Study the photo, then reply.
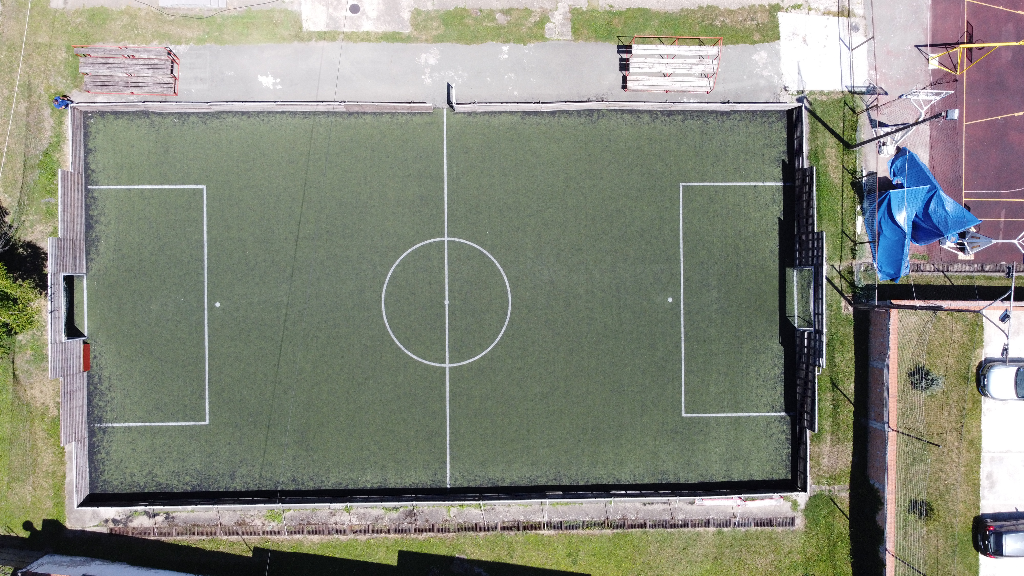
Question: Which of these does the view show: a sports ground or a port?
sports ground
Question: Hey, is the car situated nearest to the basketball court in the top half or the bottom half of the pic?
bottom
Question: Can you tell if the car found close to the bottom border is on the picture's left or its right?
right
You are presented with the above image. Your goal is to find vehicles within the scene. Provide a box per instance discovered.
[976,359,1024,403]
[975,516,1024,558]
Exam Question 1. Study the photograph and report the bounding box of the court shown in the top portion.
[930,0,1024,264]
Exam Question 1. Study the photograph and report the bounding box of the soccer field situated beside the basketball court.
[64,109,818,502]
